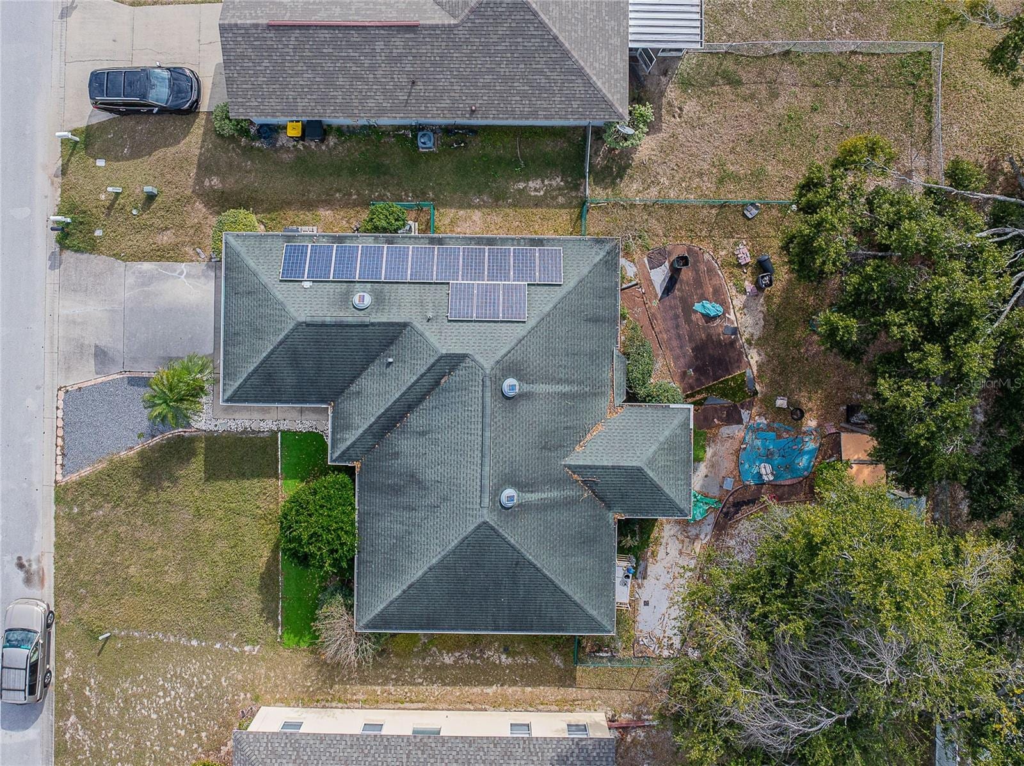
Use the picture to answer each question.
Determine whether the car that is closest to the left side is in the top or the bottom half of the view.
bottom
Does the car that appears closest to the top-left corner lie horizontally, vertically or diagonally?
horizontally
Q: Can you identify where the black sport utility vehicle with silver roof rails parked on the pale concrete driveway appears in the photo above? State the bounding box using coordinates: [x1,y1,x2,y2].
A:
[88,59,203,118]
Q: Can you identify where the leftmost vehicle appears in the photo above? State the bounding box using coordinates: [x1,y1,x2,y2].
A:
[0,597,55,704]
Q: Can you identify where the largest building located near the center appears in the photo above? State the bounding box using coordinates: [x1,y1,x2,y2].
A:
[220,235,694,633]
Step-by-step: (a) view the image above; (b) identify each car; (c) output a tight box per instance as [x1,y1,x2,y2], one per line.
[88,59,203,118]
[0,597,55,704]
